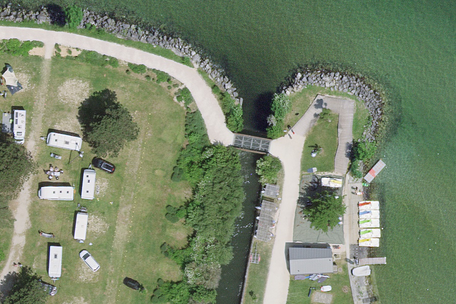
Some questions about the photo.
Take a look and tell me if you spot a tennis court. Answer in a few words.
No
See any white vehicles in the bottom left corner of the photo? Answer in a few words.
Yes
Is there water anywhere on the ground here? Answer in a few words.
Yes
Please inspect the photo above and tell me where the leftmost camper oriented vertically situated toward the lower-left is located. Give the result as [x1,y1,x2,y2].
[48,245,62,282]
